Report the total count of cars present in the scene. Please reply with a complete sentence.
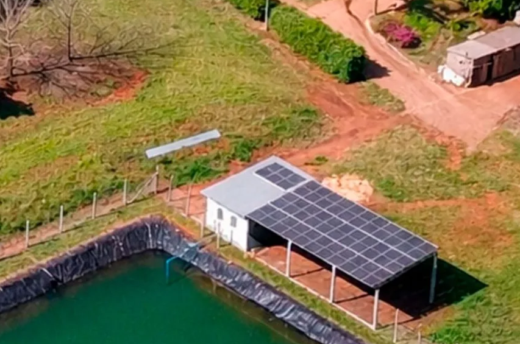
There are no cars in the image.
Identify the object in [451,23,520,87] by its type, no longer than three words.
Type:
shed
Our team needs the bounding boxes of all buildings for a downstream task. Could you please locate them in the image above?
[200,151,446,329]
[451,23,520,87]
